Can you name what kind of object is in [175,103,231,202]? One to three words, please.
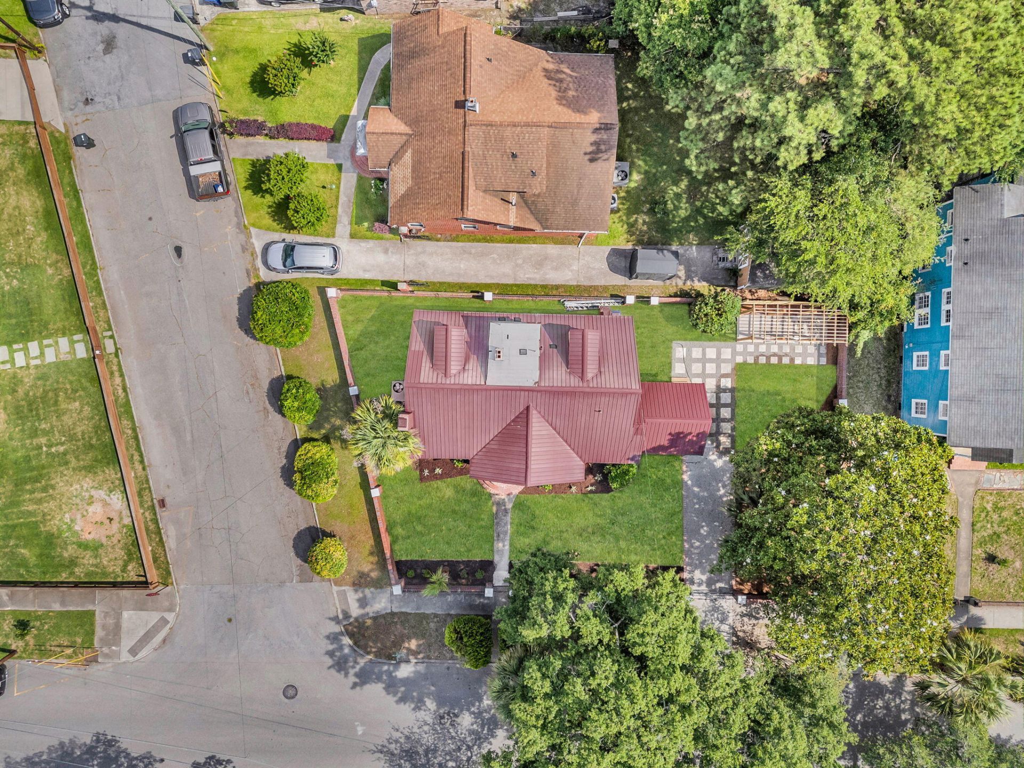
truck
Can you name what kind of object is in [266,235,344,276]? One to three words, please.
car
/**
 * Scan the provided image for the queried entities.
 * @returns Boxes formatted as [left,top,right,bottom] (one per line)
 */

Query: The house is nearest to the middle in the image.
[397,309,712,495]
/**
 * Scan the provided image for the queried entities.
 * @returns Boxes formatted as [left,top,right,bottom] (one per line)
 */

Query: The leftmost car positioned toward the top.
[27,0,72,28]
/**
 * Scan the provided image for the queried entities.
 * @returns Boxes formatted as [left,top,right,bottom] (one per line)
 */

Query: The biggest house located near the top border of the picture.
[352,8,619,249]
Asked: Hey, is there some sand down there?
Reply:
No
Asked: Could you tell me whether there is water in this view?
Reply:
No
